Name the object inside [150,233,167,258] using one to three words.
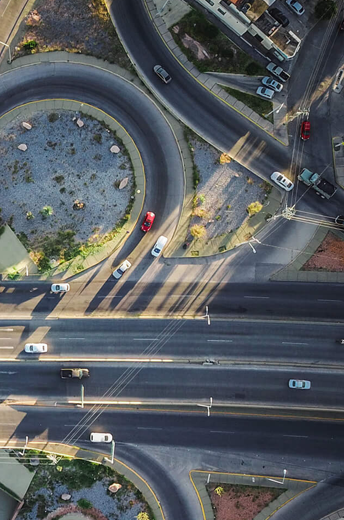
car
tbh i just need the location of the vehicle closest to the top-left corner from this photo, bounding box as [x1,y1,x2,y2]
[152,63,173,84]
